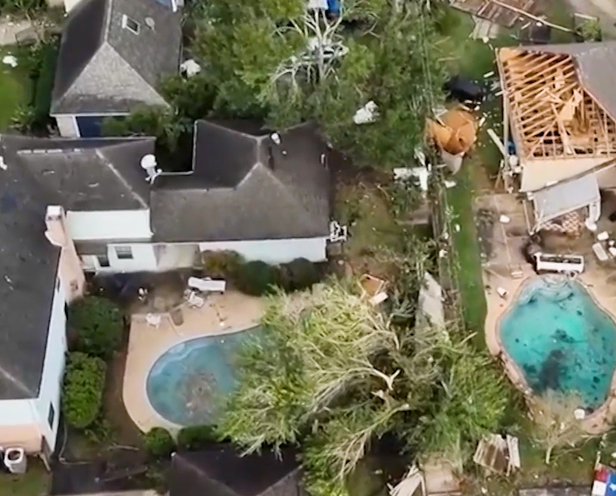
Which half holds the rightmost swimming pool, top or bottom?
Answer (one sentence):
It is in the bottom half that the rightmost swimming pool appears.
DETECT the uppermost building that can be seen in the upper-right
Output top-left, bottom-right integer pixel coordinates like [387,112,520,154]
[496,41,616,191]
